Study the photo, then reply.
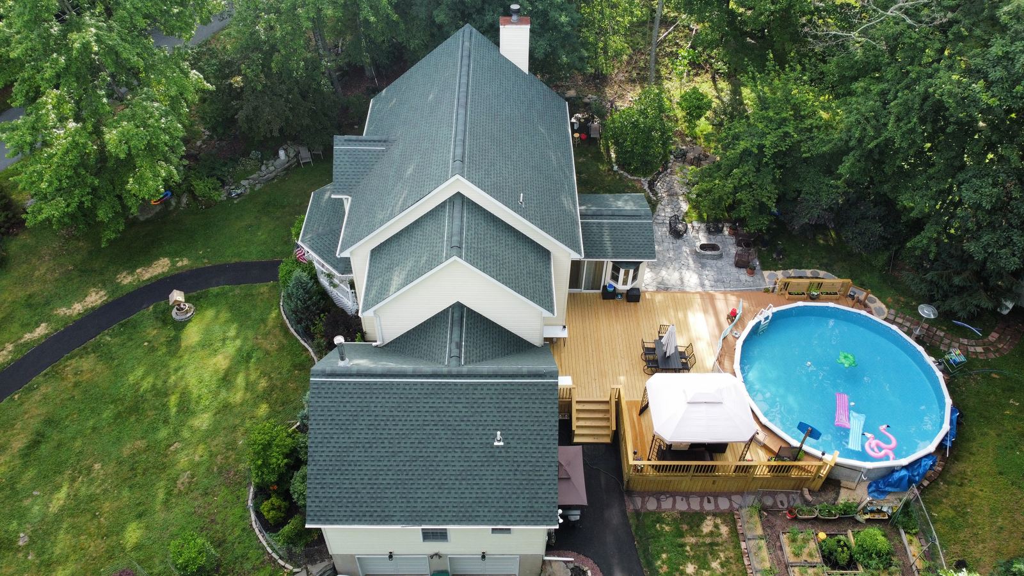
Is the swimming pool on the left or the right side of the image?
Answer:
right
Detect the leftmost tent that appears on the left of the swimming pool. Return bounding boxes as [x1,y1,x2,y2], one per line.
[558,446,586,536]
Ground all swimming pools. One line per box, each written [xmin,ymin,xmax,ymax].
[736,302,951,484]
